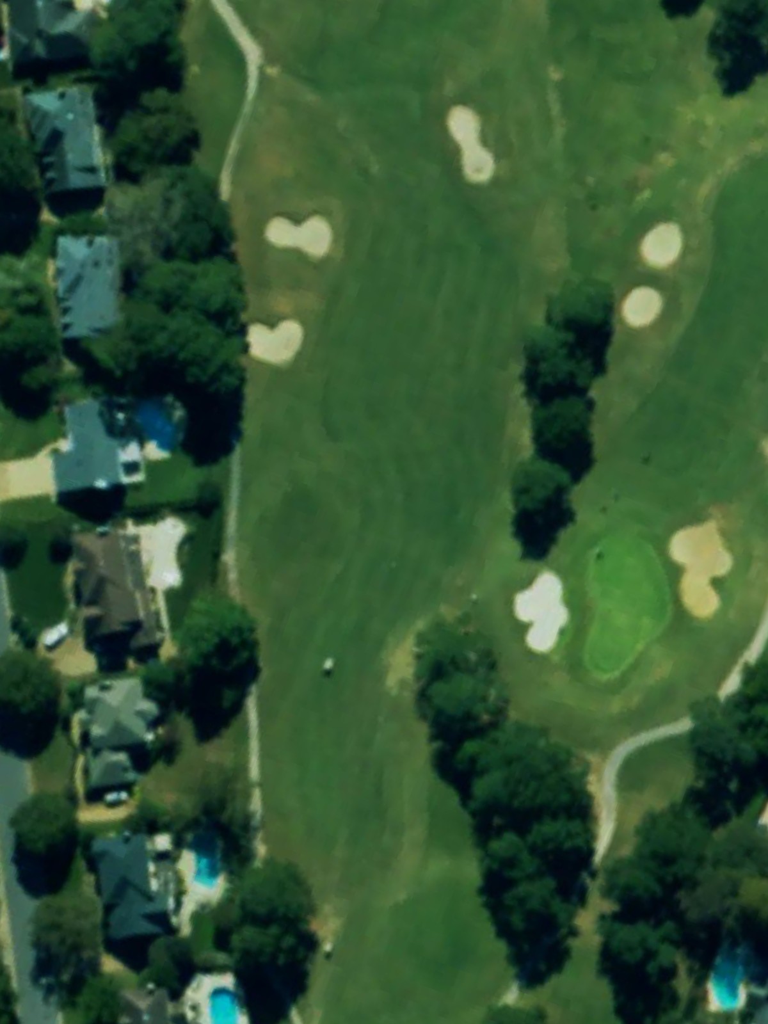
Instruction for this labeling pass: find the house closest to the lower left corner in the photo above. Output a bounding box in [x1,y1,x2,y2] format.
[114,982,170,1024]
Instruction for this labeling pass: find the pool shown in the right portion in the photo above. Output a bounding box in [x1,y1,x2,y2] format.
[713,951,741,1010]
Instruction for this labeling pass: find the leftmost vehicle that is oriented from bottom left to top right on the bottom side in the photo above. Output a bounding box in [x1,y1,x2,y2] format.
[43,622,68,647]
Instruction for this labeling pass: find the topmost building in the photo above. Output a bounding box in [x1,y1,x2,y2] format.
[9,0,95,64]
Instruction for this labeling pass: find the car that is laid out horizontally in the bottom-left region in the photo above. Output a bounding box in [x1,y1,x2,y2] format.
[104,792,128,804]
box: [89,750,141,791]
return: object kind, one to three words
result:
building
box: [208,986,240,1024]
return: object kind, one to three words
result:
swimming pool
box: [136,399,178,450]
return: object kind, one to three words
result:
swimming pool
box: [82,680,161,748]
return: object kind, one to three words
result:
house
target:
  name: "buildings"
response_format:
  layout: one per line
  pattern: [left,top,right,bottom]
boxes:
[82,680,161,748]
[54,236,120,337]
[89,750,141,791]
[114,982,170,1024]
[94,830,170,943]
[22,88,103,191]
[9,0,95,64]
[154,832,173,852]
[69,521,166,647]
[54,394,127,492]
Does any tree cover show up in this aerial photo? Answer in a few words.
Yes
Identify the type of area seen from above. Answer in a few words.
golf course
